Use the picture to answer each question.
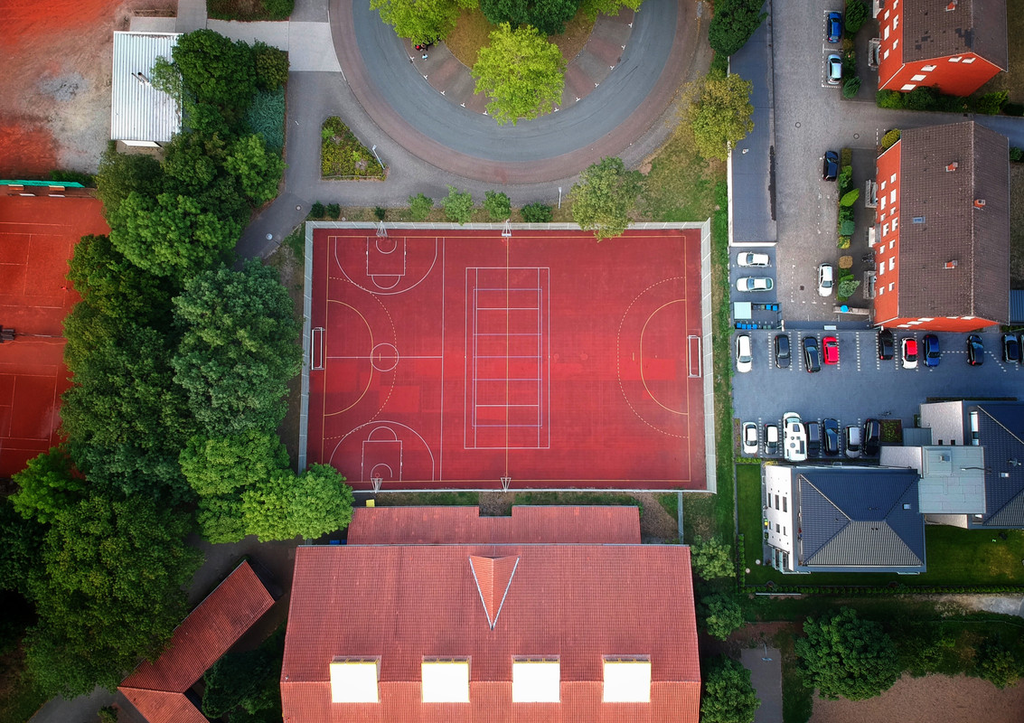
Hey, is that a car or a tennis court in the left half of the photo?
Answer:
tennis court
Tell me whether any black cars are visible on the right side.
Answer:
Yes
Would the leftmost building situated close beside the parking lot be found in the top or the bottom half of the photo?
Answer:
bottom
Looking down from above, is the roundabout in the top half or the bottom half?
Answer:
top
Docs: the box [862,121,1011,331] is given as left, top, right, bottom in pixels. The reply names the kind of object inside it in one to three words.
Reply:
house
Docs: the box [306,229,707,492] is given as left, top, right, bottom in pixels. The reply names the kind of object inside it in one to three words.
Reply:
sports court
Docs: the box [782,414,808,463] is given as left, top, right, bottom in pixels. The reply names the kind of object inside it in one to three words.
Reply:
camper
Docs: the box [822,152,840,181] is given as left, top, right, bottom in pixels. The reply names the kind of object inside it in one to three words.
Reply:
car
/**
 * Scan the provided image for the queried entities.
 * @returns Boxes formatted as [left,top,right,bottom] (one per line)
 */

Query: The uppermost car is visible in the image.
[826,14,843,43]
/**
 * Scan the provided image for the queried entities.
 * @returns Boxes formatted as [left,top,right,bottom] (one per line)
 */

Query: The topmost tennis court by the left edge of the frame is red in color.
[0,198,114,336]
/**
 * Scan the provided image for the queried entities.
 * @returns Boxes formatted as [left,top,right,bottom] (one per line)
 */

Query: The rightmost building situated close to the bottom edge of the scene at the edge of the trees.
[280,505,701,723]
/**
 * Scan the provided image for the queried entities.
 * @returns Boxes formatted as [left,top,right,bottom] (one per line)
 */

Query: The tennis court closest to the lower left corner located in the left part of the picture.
[0,335,93,476]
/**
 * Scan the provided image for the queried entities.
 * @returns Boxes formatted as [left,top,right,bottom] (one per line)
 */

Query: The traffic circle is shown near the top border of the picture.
[330,0,703,185]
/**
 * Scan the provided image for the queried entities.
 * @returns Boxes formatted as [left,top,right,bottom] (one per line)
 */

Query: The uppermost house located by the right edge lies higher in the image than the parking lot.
[867,0,1008,96]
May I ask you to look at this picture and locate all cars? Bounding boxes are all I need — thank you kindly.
[804,422,822,457]
[801,337,821,373]
[822,152,840,181]
[843,426,863,458]
[965,334,985,365]
[899,337,919,370]
[862,419,883,456]
[735,335,754,372]
[820,418,840,456]
[826,14,843,43]
[773,335,792,369]
[921,334,941,368]
[825,55,843,86]
[735,276,773,292]
[817,263,835,297]
[822,336,840,365]
[736,251,769,267]
[742,422,760,454]
[763,424,780,455]
[877,329,895,360]
[999,333,1021,364]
